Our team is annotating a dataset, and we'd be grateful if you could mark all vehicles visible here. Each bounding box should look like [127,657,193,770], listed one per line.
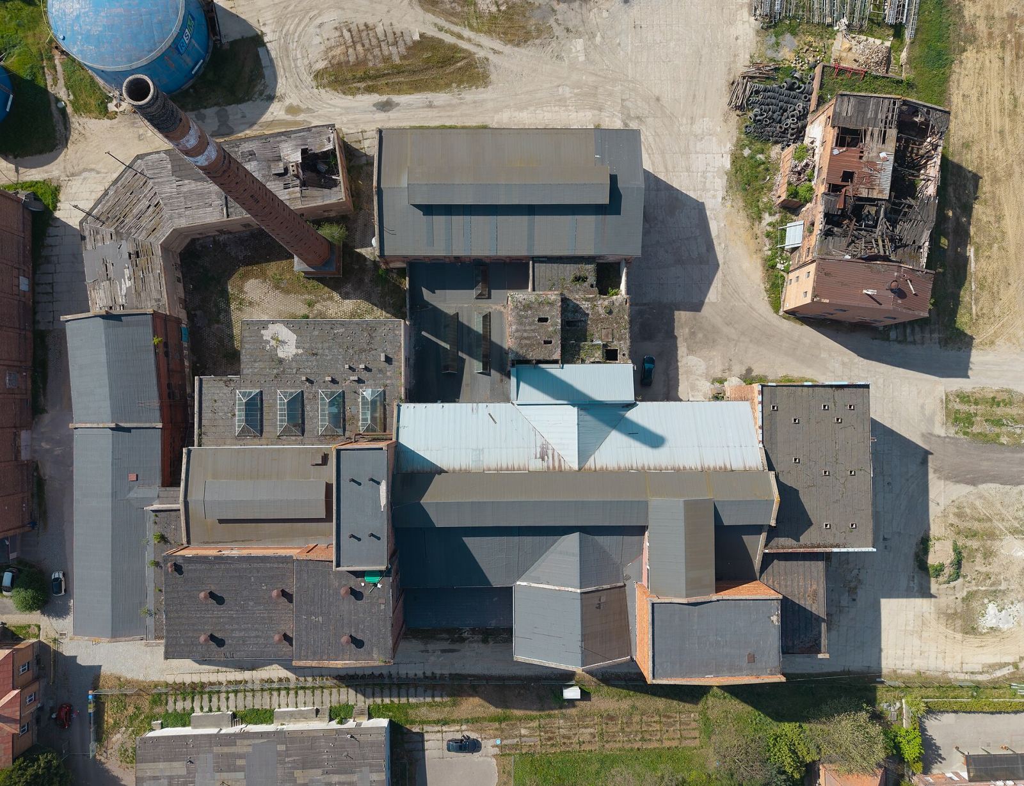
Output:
[447,731,481,753]
[50,569,68,596]
[639,354,655,386]
[0,566,19,596]
[56,701,75,730]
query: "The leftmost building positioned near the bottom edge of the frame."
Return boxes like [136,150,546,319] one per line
[0,633,55,765]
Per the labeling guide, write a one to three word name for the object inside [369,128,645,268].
building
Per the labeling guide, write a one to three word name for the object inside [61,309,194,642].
building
